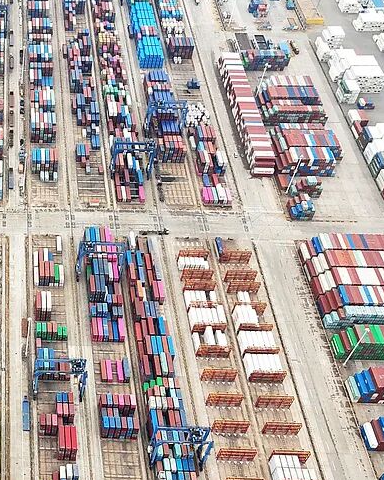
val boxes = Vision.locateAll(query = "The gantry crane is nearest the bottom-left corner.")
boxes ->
[32,355,87,399]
